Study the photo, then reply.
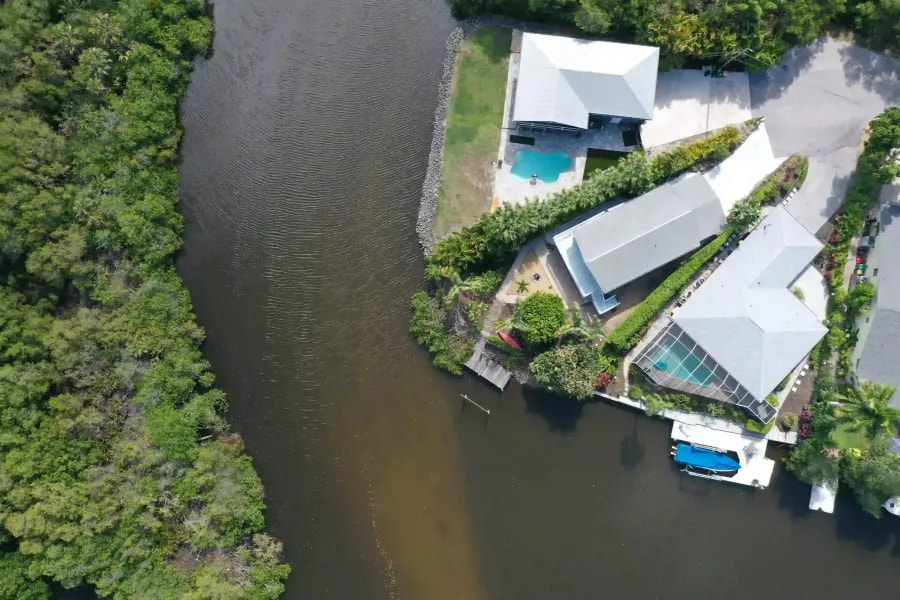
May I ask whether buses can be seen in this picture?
No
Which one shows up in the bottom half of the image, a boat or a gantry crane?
boat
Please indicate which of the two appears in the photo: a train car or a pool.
pool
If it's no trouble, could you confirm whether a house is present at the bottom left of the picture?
No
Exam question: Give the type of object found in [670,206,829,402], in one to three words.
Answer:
house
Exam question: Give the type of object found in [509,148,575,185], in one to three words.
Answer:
swimming pool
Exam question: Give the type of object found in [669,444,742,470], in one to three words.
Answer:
boat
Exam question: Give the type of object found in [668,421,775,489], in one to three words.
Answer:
pier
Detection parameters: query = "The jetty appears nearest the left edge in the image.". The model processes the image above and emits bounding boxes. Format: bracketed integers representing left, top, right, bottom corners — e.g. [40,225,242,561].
[467,330,512,391]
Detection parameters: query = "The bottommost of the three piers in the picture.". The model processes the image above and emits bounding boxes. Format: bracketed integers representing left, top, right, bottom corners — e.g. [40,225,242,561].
[808,461,839,513]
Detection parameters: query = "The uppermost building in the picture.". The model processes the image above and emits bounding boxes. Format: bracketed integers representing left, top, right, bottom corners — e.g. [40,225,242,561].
[513,33,660,138]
